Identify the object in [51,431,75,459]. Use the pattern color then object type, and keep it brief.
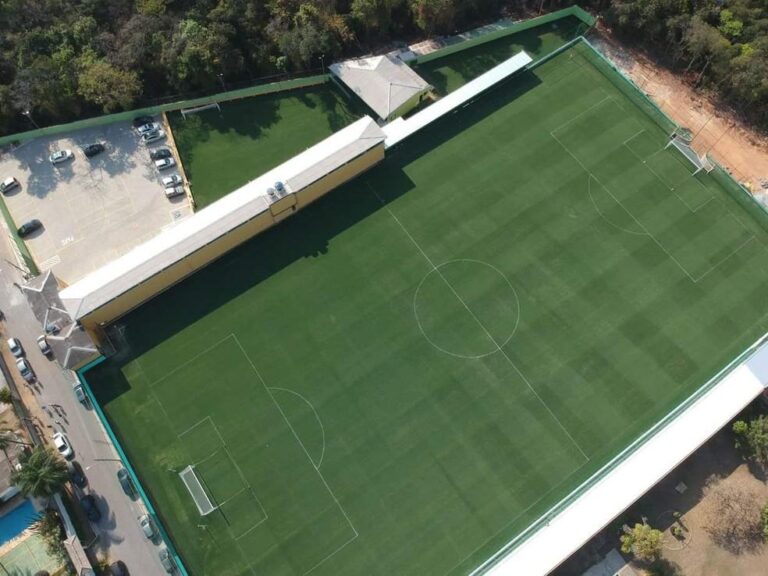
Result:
white car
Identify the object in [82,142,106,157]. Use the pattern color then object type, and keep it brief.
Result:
black car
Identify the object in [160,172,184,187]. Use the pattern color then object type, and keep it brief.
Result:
white car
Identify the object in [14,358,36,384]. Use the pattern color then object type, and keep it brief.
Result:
gray car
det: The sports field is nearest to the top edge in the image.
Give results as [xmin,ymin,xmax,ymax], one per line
[166,15,592,212]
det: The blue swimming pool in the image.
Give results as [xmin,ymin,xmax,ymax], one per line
[0,496,43,552]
